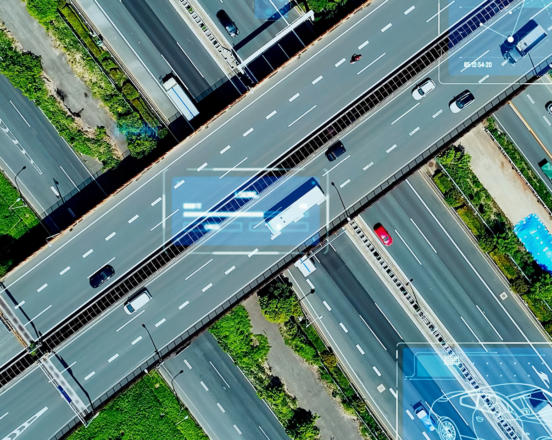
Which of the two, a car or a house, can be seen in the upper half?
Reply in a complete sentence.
The feature located in the upper half is a car.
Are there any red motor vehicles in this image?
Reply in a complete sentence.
Yes, a red motor vehicle appears in the view.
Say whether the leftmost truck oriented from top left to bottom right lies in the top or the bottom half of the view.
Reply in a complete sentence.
The top half of the photo is where the leftmost truck oriented from top left to bottom right is.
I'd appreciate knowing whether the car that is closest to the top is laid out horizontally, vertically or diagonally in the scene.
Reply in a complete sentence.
In this picture, the car that is closest to the top is oriented diagonally.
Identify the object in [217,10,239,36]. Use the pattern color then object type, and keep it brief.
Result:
black car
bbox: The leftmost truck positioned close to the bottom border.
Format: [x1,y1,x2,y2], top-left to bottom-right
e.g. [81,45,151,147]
[408,398,437,432]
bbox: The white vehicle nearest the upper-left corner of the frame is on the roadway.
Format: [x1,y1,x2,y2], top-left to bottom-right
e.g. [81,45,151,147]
[162,73,205,122]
